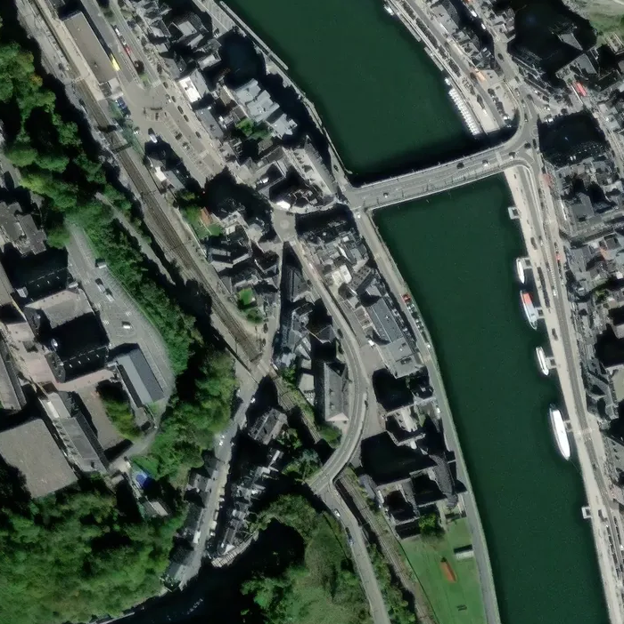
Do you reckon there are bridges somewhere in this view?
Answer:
Yes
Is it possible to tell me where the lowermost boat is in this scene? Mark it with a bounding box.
[548,405,569,459]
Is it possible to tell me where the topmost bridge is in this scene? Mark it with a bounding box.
[341,134,532,216]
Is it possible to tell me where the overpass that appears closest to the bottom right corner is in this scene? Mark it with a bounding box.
[309,368,374,491]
